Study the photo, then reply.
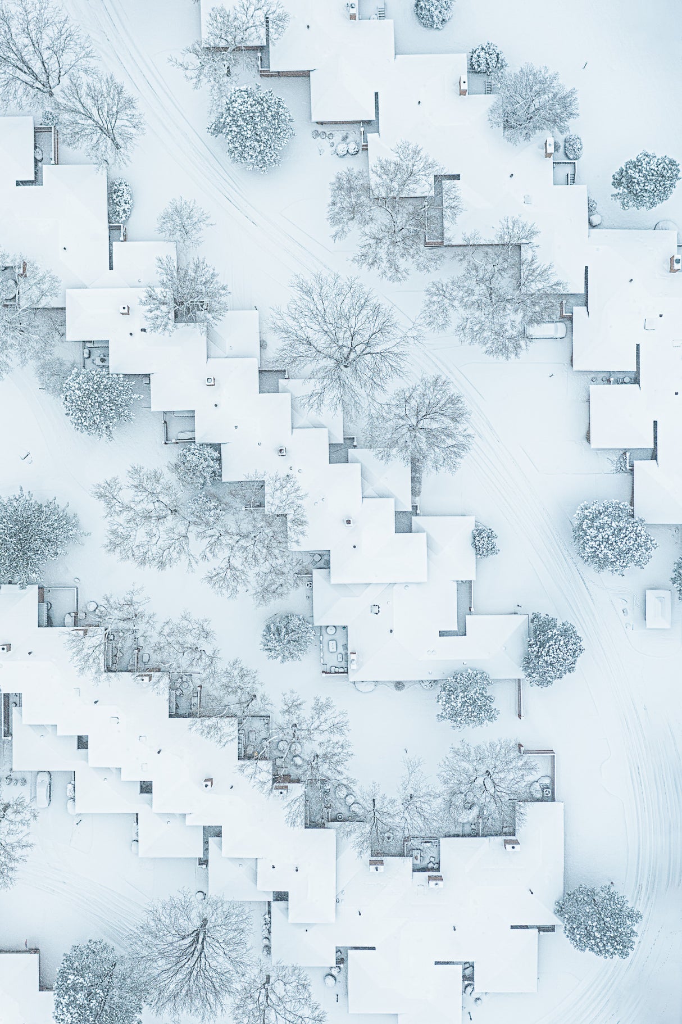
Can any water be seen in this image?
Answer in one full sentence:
No, there's no water in this view.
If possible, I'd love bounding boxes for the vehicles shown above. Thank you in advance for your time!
[525,321,565,340]
[35,771,54,808]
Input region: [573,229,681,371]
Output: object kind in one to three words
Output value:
house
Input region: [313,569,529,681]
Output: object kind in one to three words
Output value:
house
